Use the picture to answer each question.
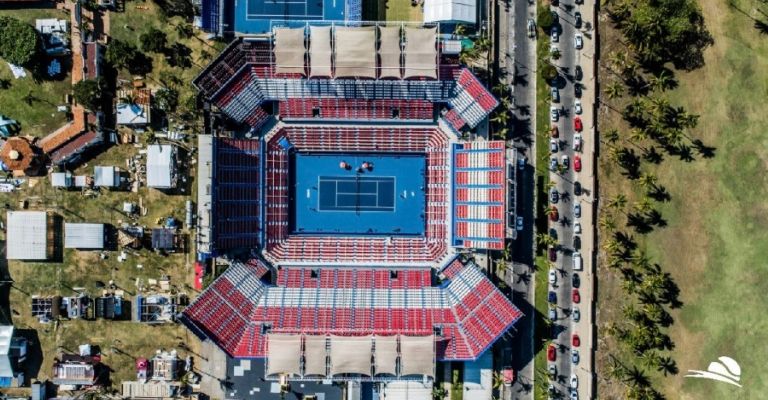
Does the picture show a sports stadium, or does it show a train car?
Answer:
sports stadium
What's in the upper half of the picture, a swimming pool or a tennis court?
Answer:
tennis court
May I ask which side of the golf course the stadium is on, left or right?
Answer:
on its left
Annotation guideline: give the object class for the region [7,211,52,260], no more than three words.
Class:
building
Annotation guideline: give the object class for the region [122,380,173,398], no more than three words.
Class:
shed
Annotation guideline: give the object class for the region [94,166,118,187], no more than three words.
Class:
shed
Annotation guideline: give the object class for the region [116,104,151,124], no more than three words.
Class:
house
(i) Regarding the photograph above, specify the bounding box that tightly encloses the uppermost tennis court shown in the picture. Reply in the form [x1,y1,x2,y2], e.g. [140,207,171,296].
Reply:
[233,0,334,33]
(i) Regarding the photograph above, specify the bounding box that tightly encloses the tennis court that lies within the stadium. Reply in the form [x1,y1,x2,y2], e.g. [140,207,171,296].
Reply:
[290,152,426,236]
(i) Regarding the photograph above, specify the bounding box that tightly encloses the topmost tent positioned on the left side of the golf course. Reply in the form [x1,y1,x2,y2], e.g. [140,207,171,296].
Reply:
[424,0,478,24]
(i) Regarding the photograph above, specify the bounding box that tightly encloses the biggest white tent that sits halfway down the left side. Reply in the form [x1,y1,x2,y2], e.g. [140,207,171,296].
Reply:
[147,145,176,188]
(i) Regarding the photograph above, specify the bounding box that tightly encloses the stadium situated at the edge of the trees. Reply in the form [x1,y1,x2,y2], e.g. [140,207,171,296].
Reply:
[182,20,522,382]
